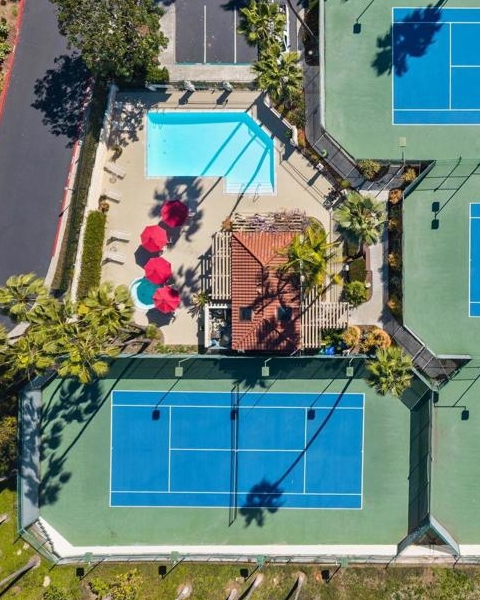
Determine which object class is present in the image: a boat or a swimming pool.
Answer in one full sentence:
It is a swimming pool that can be seen here.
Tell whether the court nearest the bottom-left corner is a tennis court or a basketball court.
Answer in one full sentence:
Looking closely, the court nearest the bottom-left corner is a tennis court.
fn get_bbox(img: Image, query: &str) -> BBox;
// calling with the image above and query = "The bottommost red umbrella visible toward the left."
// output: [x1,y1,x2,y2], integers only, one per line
[154,286,180,312]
